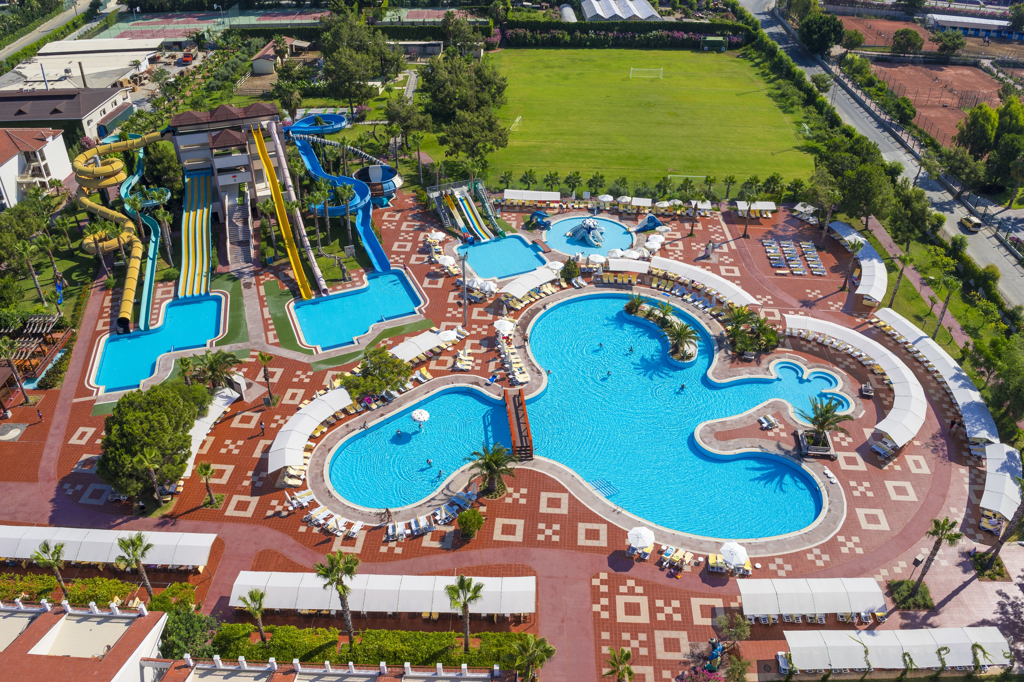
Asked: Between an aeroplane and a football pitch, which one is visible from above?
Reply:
football pitch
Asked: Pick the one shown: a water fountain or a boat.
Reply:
water fountain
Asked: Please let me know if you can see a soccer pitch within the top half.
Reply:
Yes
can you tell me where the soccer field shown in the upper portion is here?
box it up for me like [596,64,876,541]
[488,48,827,204]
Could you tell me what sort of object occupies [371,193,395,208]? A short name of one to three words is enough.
swimming pool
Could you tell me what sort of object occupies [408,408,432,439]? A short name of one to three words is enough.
fountain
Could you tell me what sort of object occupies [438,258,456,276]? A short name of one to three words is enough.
umbrella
